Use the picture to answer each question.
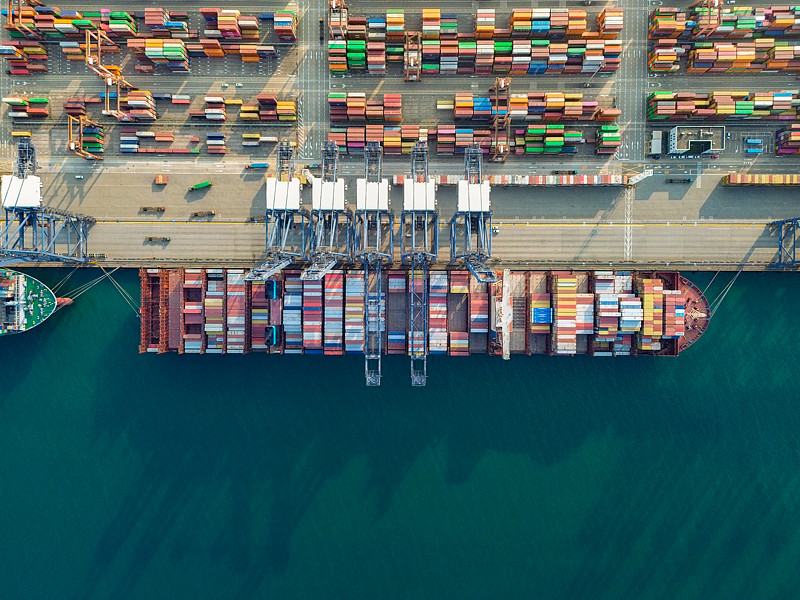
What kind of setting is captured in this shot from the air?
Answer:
port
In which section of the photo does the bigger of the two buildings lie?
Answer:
top right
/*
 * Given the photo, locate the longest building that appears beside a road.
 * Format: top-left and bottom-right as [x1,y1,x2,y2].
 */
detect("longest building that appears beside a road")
[669,126,725,154]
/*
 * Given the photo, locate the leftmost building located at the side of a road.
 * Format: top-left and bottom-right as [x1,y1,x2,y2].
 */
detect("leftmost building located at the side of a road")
[647,131,662,155]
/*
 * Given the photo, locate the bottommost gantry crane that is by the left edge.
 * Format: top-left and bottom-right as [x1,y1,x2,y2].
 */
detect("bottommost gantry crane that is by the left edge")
[0,137,104,267]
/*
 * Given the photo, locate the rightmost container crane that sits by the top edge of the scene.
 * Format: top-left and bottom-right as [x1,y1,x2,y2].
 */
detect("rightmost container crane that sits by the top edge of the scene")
[686,0,722,41]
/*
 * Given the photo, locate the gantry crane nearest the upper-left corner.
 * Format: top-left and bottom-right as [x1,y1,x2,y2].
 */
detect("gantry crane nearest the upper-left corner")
[7,0,47,41]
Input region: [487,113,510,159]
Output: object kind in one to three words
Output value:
container crane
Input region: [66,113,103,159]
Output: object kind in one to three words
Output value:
container crane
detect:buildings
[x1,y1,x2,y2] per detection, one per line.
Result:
[669,126,725,154]
[647,131,662,155]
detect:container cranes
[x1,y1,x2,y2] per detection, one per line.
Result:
[86,28,121,79]
[487,113,510,159]
[402,30,421,80]
[0,137,104,267]
[105,74,139,123]
[354,138,398,387]
[441,139,507,281]
[686,0,722,41]
[487,74,510,123]
[7,0,47,41]
[238,138,319,280]
[395,139,442,387]
[297,138,357,280]
[328,0,349,41]
[66,113,103,159]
